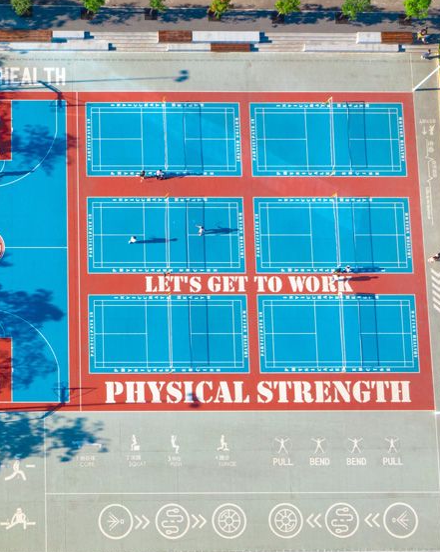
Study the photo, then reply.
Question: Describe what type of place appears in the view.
sports ground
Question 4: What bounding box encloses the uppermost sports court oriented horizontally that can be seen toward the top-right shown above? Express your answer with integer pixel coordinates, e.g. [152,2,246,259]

[249,103,408,177]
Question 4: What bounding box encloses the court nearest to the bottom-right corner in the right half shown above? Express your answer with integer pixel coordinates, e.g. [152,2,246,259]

[257,294,420,374]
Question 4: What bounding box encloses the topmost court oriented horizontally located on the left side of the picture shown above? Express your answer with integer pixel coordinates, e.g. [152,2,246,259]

[86,103,242,177]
